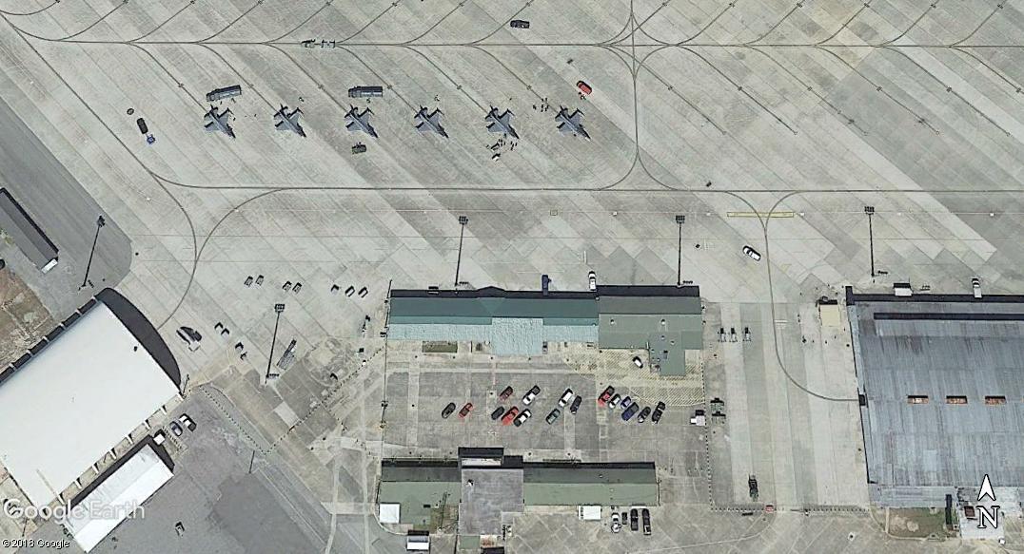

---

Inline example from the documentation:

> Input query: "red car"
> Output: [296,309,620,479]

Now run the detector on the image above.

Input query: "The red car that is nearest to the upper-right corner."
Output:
[577,80,593,95]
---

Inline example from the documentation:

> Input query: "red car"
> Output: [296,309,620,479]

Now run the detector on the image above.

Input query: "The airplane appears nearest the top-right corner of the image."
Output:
[557,108,590,140]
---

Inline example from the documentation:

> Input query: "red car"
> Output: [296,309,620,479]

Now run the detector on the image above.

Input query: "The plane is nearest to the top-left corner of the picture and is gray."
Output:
[204,107,235,138]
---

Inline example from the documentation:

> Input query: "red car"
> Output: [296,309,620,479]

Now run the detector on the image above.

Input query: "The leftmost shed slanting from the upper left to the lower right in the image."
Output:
[0,192,55,269]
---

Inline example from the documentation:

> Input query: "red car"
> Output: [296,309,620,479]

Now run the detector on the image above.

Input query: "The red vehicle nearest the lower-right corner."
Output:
[597,386,615,406]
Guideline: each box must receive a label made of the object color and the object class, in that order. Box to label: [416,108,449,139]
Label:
gray airplane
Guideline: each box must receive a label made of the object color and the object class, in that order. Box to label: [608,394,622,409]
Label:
white car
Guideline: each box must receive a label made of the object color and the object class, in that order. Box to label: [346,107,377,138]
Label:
gray airplane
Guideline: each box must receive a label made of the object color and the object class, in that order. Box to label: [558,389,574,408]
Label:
white car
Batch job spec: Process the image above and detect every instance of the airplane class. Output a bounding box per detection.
[487,108,519,139]
[346,107,377,138]
[204,107,235,138]
[275,107,307,139]
[557,108,590,140]
[416,108,449,139]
